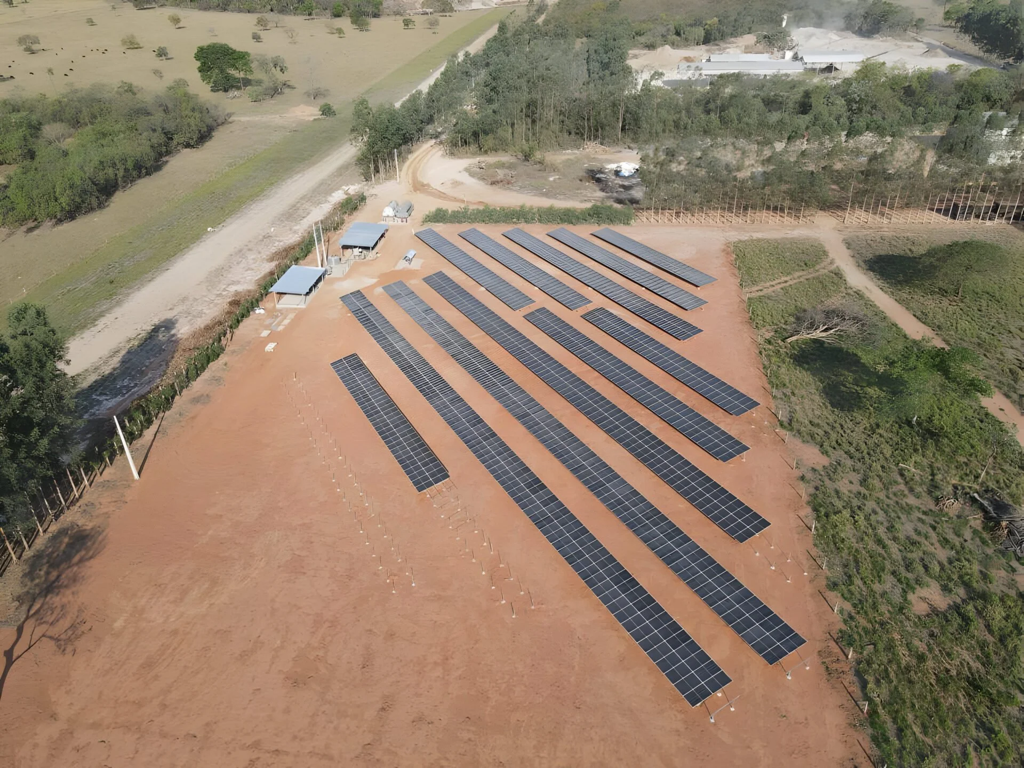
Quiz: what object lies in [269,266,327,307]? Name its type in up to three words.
shed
